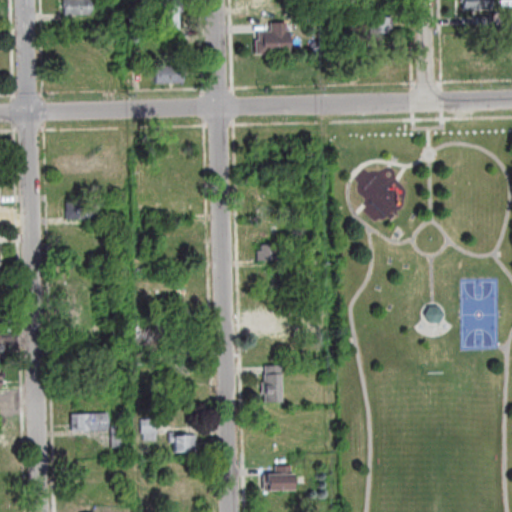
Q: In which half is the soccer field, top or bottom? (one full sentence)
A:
The soccer field sits in the bottom half of the picture.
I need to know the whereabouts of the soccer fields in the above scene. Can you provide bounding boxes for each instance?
[379,373,496,512]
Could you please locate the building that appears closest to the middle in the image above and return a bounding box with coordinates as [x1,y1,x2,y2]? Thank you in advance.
[254,240,274,262]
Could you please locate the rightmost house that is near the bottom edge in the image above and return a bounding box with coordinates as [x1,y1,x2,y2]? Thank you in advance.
[261,465,298,492]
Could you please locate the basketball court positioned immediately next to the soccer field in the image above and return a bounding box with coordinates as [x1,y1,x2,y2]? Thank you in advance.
[460,278,498,351]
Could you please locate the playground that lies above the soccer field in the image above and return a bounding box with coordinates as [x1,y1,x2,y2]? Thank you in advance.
[356,168,404,220]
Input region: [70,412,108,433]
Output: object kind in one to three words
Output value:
house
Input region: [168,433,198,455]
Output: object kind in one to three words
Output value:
house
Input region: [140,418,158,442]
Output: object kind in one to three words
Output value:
building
